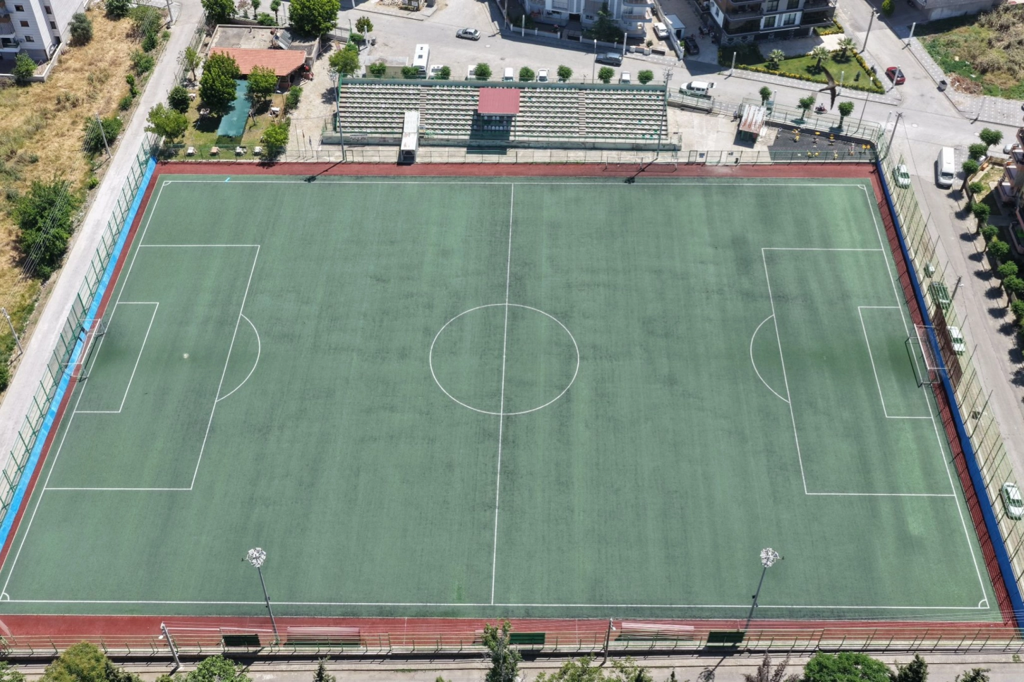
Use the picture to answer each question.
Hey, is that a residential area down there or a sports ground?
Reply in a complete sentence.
It's a sports ground.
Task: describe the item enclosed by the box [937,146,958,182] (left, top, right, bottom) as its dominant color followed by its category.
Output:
white vehicle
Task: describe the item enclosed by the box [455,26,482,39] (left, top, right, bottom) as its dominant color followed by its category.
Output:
gray vehicle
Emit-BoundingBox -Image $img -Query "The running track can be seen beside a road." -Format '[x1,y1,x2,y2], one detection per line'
[0,162,1020,647]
